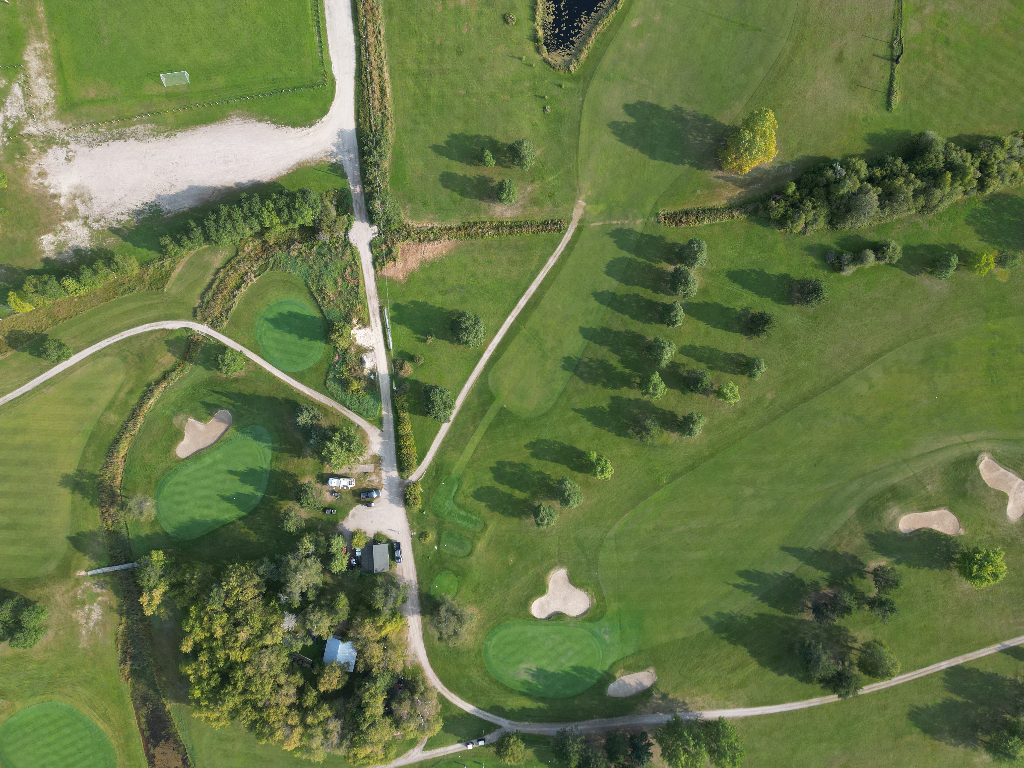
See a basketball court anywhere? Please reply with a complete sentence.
No, there's no basketball court here.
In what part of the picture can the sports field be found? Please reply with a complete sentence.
The sports field is in the top left part of the image.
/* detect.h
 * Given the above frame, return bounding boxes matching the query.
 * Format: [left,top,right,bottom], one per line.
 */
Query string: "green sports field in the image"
[36,0,325,111]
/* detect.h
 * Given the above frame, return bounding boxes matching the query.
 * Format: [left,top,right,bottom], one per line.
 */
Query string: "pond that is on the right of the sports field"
[544,0,618,61]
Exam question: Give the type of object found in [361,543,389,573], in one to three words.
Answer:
shed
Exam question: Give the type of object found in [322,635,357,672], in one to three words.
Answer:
house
